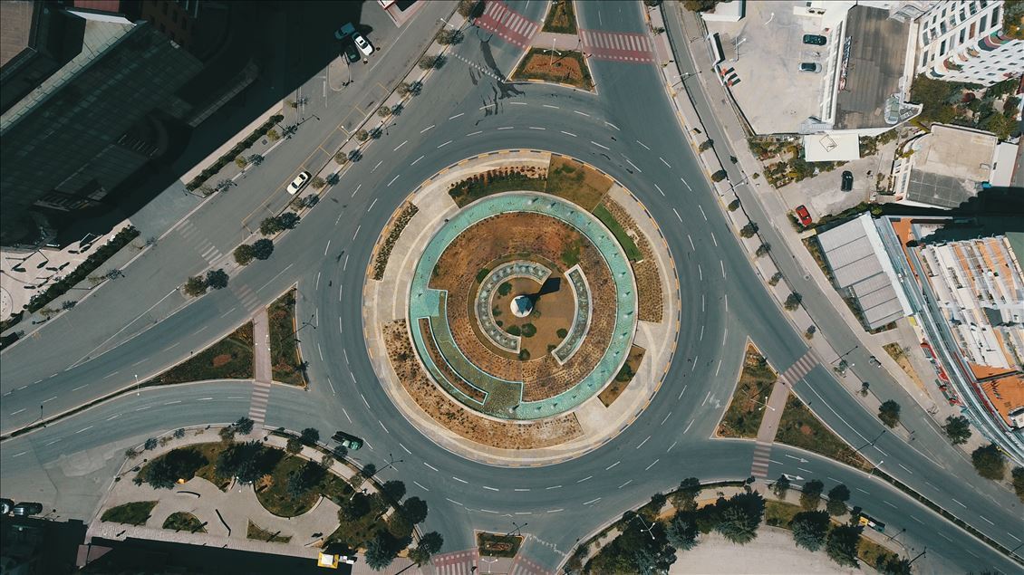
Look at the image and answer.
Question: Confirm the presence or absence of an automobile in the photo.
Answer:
Yes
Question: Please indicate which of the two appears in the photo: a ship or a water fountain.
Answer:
water fountain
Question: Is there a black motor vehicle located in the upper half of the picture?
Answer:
Yes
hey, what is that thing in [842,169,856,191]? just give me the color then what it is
black car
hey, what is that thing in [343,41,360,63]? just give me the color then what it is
black car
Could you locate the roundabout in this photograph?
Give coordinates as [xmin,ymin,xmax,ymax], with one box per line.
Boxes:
[298,84,745,532]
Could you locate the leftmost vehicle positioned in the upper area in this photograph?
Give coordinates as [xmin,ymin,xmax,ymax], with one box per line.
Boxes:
[287,169,307,194]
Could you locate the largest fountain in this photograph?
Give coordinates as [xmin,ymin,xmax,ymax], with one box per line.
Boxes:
[406,189,640,423]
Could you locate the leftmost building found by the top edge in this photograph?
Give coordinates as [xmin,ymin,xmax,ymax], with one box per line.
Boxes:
[0,0,203,219]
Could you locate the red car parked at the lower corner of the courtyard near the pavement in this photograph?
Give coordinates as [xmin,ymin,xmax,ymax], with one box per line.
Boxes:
[796,203,814,227]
